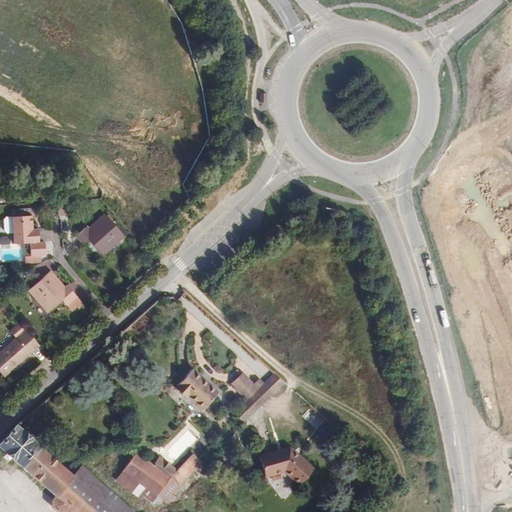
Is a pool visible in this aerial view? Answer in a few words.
Yes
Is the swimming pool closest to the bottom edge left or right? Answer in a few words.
left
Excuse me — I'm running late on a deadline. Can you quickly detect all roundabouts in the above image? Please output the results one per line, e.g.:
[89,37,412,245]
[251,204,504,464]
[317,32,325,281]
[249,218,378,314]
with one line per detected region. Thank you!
[270,21,440,184]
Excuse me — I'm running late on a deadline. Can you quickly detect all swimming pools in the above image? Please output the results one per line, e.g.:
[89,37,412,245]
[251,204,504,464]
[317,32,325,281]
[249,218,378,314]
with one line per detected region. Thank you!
[154,424,200,464]
[0,244,24,264]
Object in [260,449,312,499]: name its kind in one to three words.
house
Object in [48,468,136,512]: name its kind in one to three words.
barn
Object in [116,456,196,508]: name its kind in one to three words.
shed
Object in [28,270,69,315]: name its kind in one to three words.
house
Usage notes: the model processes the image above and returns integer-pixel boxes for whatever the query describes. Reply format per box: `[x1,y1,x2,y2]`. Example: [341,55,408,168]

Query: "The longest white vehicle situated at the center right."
[421,252,438,286]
